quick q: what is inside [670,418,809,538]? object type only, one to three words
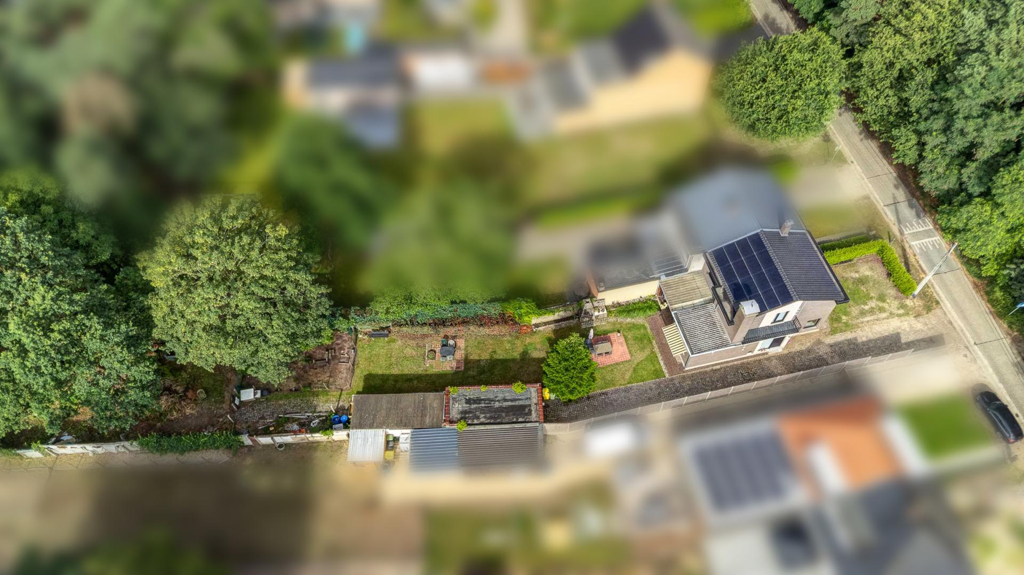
house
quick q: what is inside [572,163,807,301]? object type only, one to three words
house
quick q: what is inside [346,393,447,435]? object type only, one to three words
shed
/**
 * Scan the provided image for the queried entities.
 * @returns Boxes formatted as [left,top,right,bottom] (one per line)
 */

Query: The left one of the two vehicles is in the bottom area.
[584,427,645,458]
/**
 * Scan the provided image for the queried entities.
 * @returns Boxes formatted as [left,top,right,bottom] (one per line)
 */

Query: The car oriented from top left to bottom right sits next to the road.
[977,397,1024,447]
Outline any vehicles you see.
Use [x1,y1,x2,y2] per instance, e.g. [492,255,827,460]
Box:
[977,397,1024,447]
[584,427,645,458]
